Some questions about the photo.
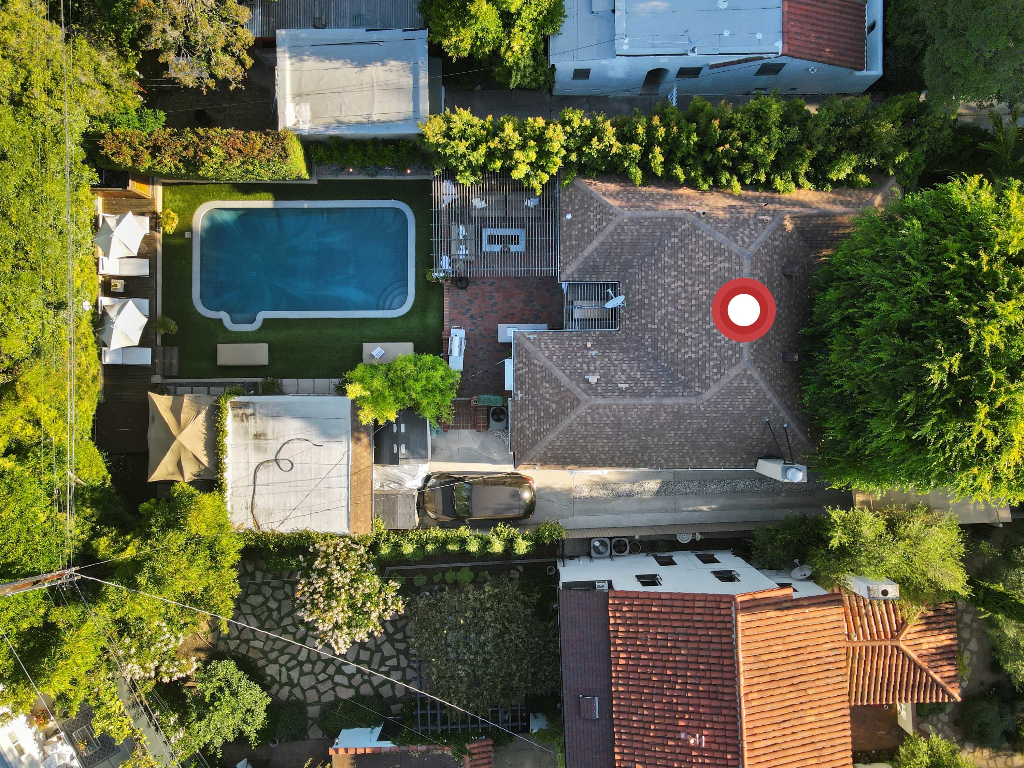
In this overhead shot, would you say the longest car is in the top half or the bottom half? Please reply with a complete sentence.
It is in the bottom half that the longest car appears.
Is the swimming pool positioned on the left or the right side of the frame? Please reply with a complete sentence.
It is on the left.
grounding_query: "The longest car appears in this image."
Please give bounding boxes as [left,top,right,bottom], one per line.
[423,475,535,529]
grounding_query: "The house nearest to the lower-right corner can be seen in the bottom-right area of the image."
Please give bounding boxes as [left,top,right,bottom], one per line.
[557,545,966,768]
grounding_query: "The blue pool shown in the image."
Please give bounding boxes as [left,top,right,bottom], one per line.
[192,200,414,332]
